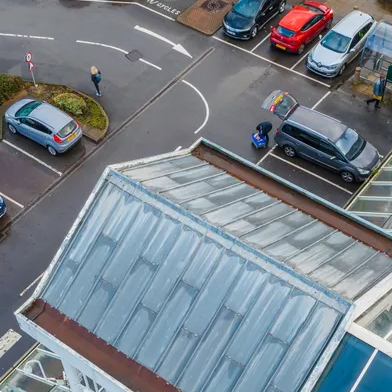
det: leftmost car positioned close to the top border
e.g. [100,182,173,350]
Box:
[222,0,289,39]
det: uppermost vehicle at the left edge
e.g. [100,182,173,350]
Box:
[2,97,84,156]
